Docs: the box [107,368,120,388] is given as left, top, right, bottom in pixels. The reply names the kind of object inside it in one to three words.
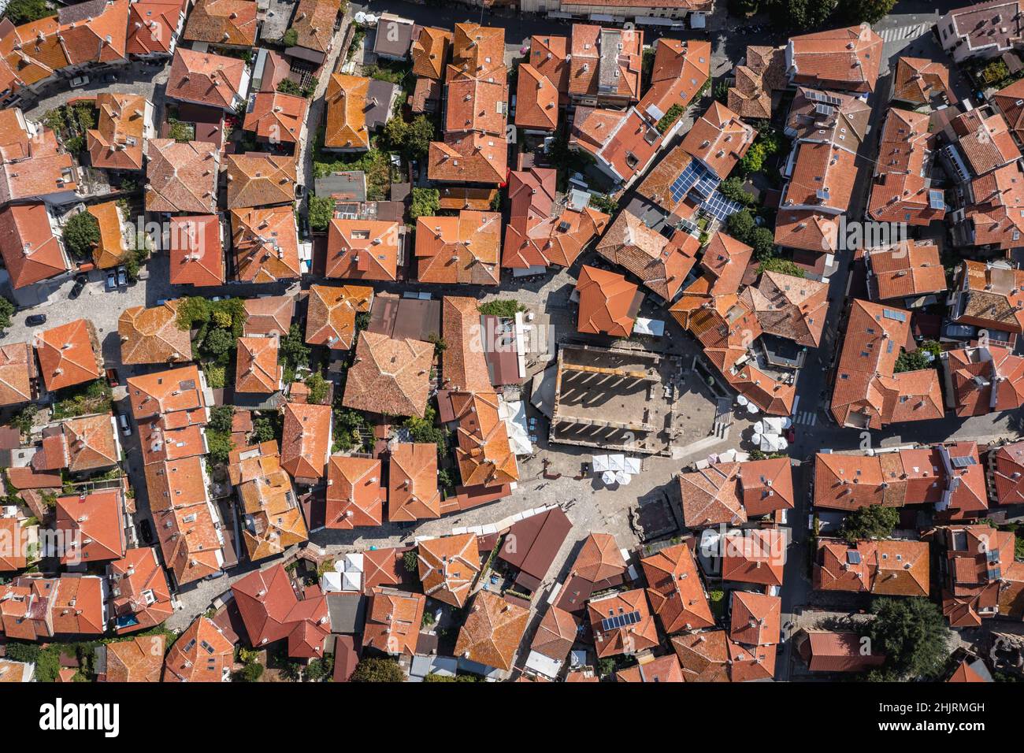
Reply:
vehicle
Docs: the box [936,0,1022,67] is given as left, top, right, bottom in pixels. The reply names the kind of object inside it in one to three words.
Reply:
building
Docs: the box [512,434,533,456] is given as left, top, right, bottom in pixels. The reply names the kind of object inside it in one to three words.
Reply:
umbrella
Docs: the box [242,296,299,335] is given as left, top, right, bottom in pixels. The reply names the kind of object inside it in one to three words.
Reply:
house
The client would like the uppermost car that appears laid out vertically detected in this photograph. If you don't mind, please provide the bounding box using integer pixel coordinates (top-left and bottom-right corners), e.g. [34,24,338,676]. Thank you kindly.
[973,85,985,107]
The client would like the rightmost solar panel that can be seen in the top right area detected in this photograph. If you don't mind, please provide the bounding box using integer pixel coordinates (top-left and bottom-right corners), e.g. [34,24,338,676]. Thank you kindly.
[929,190,944,209]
